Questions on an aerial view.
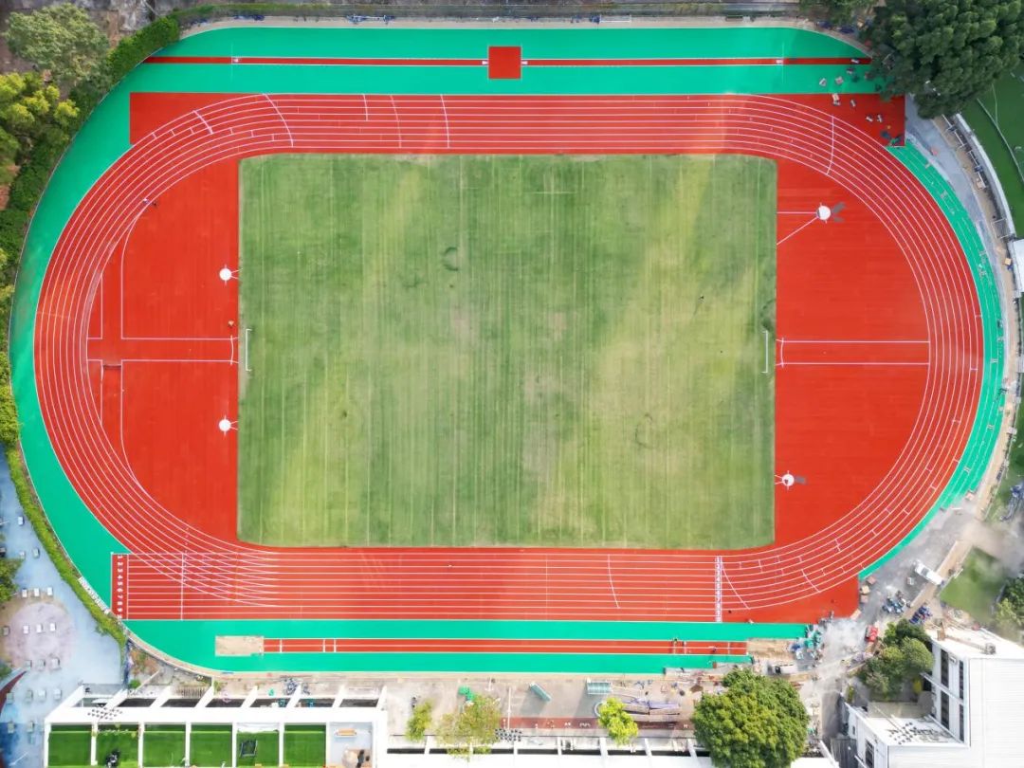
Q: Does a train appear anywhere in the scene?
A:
No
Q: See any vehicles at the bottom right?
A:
Yes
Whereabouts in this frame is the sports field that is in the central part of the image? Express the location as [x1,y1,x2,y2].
[238,155,777,547]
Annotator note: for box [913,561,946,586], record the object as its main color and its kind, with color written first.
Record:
white vehicle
